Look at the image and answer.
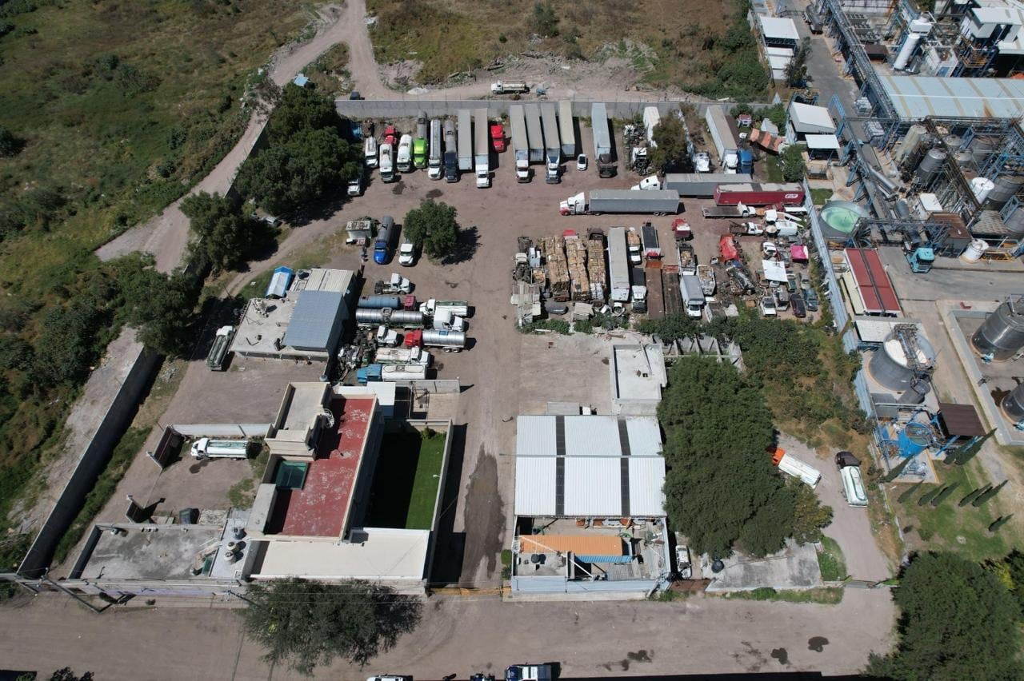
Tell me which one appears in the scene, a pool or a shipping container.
shipping container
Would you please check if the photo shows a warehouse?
Yes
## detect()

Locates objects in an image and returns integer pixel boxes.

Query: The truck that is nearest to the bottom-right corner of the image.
[836,450,877,508]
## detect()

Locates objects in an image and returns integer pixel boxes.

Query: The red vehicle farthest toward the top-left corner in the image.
[382,121,398,147]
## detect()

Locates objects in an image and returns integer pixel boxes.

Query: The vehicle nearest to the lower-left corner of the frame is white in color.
[187,441,251,465]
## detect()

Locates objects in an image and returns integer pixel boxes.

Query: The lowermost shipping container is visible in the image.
[525,536,630,561]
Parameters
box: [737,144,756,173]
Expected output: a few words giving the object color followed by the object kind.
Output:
blue vehicle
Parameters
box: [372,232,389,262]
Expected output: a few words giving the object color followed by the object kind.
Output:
blue vehicle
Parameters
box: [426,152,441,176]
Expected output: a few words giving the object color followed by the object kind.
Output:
white vehicle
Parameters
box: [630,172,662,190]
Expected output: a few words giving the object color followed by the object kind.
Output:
white vehicle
